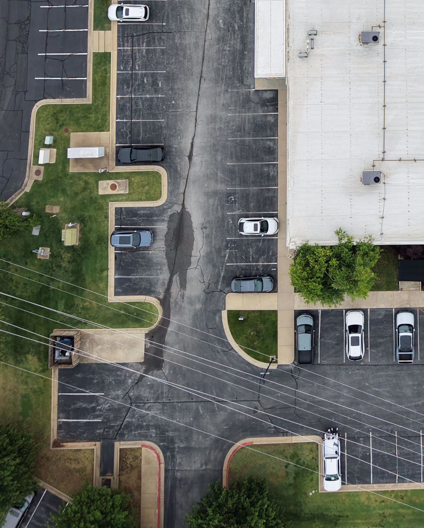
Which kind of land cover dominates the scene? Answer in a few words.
paved ground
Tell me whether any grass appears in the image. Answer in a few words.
Yes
